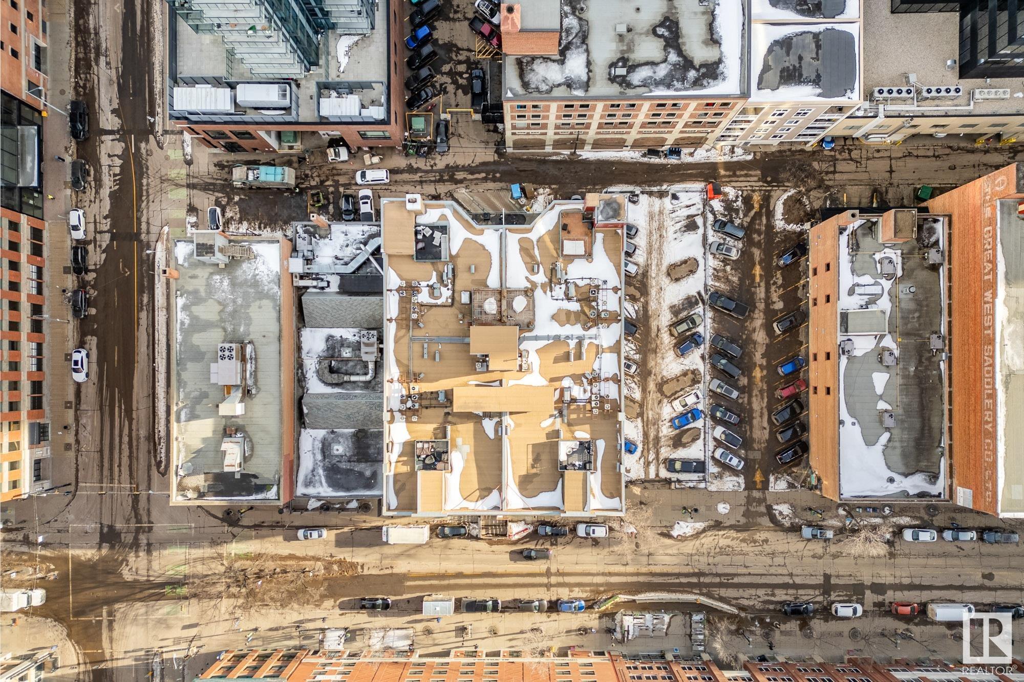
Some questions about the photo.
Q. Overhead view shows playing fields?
No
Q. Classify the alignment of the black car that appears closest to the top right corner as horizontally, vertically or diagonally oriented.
diagonally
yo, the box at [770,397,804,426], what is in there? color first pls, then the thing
black car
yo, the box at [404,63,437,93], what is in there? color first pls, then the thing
black car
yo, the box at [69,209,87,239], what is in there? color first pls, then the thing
white car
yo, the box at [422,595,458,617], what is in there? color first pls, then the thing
white trailer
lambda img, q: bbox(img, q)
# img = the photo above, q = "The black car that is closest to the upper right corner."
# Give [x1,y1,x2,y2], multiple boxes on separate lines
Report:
[775,241,808,269]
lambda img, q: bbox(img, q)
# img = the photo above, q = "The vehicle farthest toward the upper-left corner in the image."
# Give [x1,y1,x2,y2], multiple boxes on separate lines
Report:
[68,100,88,141]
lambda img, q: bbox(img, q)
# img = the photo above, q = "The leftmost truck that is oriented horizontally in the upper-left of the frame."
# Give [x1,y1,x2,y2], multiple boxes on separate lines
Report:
[228,164,297,186]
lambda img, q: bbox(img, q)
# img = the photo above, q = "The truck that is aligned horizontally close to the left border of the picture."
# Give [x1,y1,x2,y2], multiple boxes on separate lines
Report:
[0,589,51,615]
